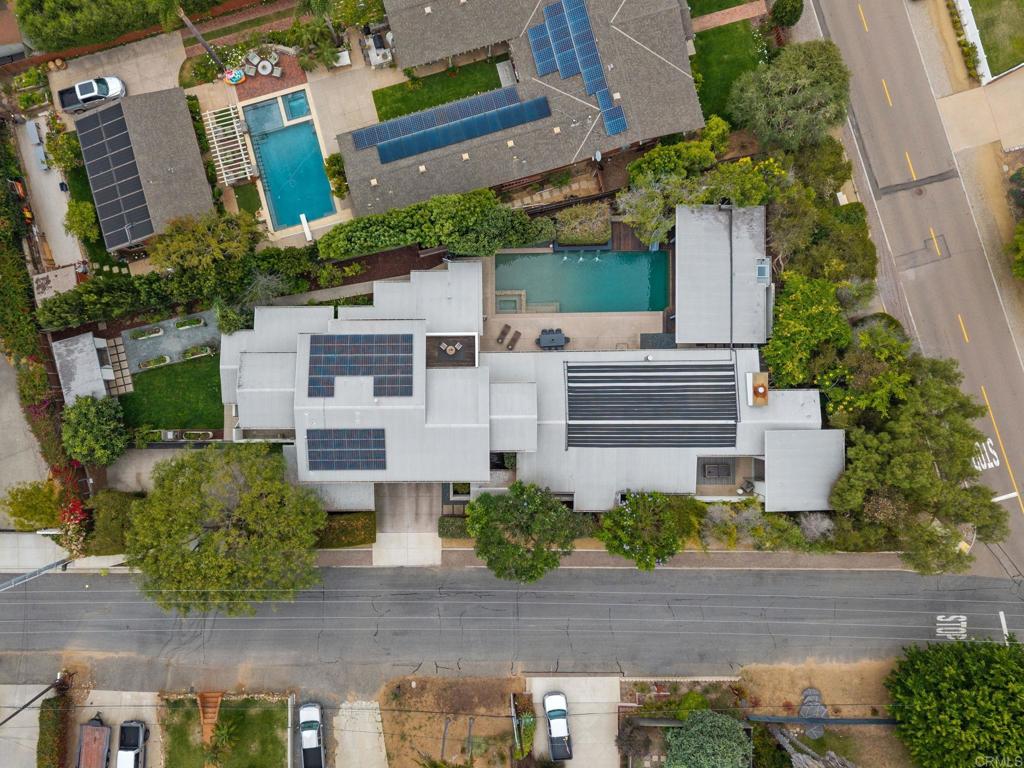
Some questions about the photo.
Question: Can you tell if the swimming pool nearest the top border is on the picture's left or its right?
left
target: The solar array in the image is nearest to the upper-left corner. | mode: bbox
[77,105,151,247]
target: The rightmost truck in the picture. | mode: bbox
[541,690,572,763]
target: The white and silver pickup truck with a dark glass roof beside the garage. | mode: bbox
[49,68,126,110]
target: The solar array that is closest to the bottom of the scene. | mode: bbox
[307,429,386,470]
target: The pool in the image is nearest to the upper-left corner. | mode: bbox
[243,88,335,228]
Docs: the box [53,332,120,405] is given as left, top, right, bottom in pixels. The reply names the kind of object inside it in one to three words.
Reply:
shed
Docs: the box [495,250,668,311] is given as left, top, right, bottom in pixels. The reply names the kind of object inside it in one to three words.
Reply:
swimming pool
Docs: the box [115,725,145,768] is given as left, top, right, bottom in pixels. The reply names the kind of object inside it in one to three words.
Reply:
truck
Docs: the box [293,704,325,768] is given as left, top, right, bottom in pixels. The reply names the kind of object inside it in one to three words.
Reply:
truck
